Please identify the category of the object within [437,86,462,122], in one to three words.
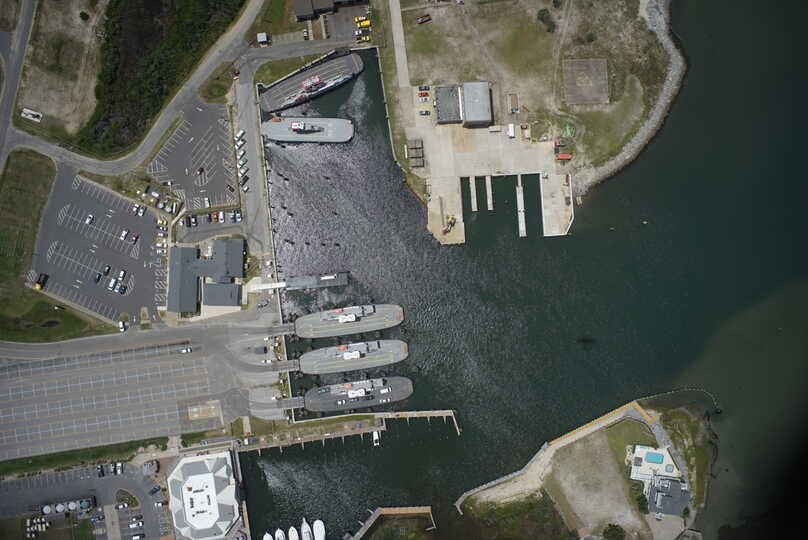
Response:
building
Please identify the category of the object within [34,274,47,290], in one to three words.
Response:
vehicle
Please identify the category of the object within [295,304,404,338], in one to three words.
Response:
ship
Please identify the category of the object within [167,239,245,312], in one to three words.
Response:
building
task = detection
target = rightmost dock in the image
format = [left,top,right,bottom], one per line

[544,176,573,235]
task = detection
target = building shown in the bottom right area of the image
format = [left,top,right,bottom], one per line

[647,476,690,519]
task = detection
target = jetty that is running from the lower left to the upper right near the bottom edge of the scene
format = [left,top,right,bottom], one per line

[347,508,381,540]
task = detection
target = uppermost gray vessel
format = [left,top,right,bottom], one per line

[264,54,364,112]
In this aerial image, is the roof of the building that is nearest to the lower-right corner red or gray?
gray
